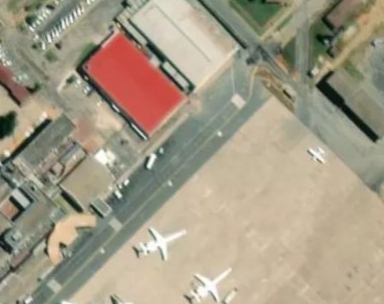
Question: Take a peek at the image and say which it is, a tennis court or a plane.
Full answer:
I can see a plane in this picture.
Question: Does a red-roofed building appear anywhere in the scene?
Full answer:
Yes, this view includes a red-roofed building.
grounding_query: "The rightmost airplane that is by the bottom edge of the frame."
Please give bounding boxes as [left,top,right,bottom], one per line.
[189,268,231,303]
